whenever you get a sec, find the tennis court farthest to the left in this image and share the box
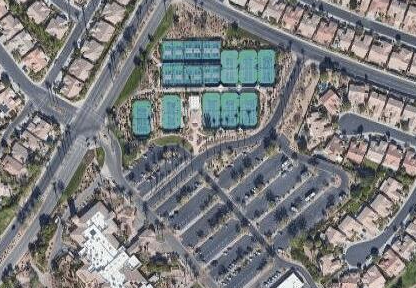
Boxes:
[132,101,150,138]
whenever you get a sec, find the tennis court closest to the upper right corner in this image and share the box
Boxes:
[258,50,275,83]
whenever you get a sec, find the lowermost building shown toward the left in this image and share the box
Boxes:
[64,201,151,288]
